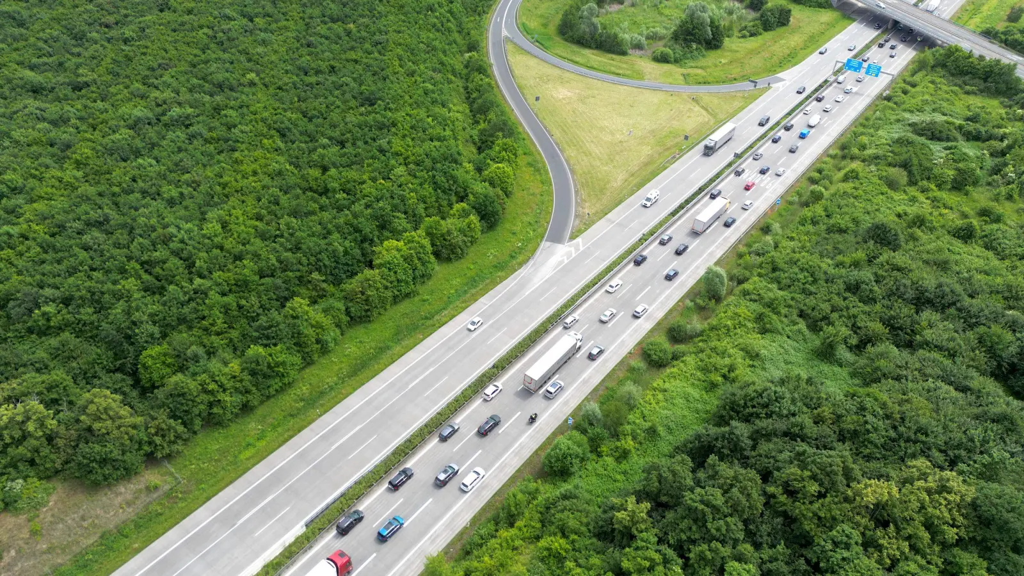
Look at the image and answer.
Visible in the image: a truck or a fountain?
truck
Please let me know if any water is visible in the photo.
No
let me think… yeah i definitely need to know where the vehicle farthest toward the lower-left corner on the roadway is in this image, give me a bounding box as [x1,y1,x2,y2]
[302,548,352,576]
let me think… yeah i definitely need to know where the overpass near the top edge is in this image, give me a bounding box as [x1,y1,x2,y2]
[842,0,988,52]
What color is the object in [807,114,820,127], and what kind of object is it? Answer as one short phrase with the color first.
white vehicle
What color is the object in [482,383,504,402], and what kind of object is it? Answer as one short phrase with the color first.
white car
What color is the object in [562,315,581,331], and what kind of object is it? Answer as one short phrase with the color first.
white car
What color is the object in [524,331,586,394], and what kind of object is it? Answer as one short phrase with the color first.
white truck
